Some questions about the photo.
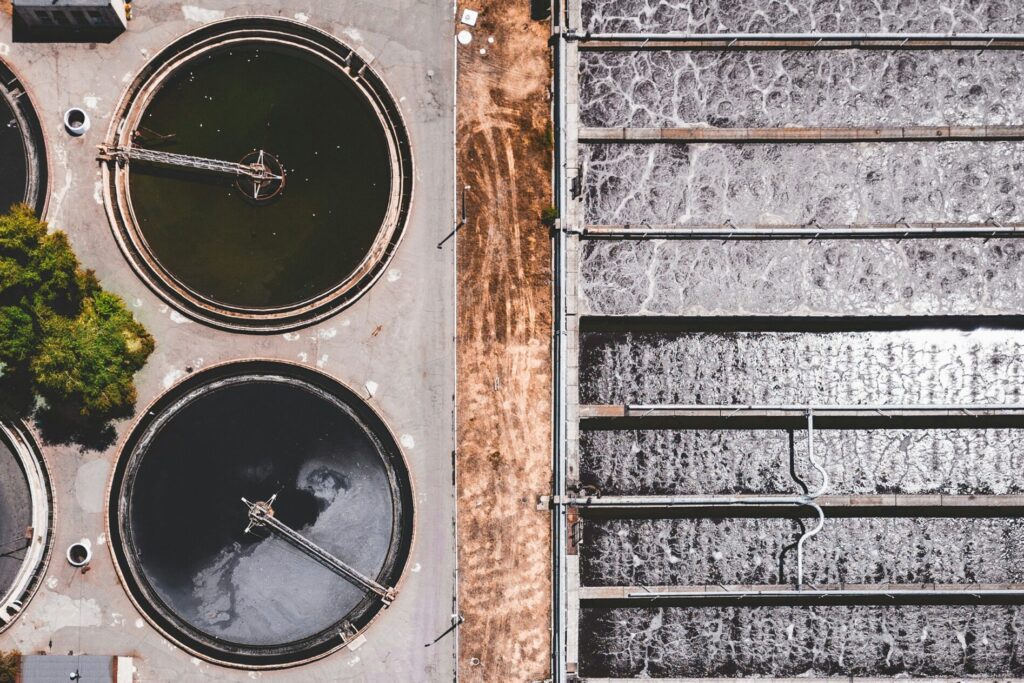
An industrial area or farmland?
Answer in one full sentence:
The area seen from above is an industrial area.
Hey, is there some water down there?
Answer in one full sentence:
Yes, there's water in this view.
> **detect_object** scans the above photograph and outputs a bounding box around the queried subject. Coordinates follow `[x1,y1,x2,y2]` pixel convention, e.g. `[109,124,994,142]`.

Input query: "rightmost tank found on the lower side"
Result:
[106,359,415,668]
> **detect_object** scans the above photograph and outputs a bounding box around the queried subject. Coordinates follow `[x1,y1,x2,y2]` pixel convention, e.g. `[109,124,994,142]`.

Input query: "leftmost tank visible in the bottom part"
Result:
[0,395,58,636]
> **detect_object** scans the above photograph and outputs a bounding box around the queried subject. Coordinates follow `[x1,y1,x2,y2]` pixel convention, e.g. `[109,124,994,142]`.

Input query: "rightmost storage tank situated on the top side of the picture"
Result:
[102,17,414,331]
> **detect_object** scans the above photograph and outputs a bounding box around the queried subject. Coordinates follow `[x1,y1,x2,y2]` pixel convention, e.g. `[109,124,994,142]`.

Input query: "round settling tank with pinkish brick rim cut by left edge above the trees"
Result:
[0,55,50,229]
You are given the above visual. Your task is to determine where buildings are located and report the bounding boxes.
[16,656,140,683]
[13,0,125,29]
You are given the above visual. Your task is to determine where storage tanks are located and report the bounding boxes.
[102,17,414,331]
[0,395,58,636]
[106,359,415,668]
[0,55,50,229]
